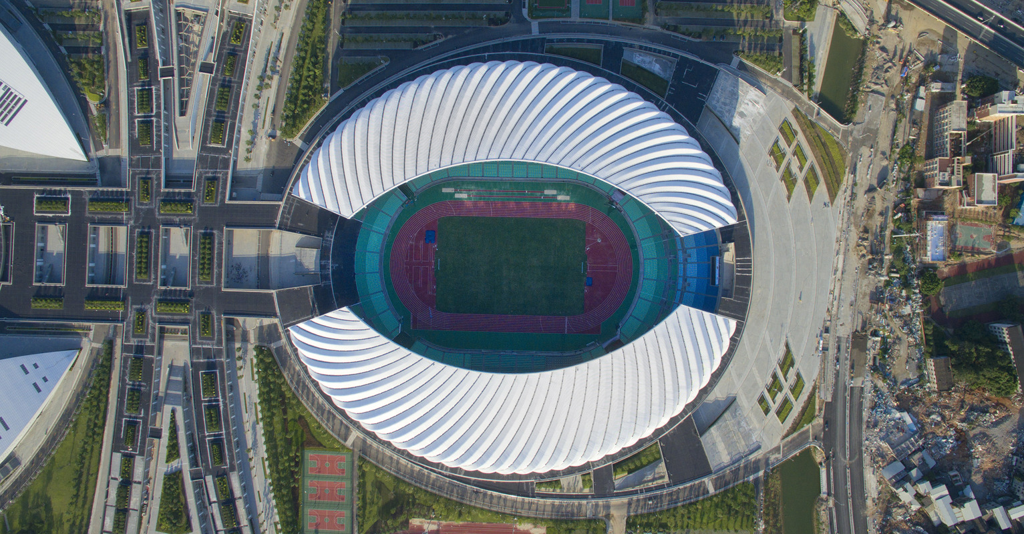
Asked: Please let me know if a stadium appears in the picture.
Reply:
Yes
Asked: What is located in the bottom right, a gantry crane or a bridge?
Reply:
bridge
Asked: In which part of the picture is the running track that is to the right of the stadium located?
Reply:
right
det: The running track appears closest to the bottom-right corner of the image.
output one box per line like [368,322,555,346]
[932,249,1024,325]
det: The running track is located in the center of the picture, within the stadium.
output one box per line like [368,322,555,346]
[390,200,631,335]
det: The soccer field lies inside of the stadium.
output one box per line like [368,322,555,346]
[436,217,586,316]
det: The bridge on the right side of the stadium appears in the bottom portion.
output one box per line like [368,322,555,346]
[760,412,829,473]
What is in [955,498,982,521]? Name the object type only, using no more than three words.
house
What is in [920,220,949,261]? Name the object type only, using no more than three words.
building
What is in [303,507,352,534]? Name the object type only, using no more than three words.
basketball court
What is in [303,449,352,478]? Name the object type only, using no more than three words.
basketball court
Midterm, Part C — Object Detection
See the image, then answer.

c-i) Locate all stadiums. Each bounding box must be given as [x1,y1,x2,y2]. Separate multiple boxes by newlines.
[274,32,754,501]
